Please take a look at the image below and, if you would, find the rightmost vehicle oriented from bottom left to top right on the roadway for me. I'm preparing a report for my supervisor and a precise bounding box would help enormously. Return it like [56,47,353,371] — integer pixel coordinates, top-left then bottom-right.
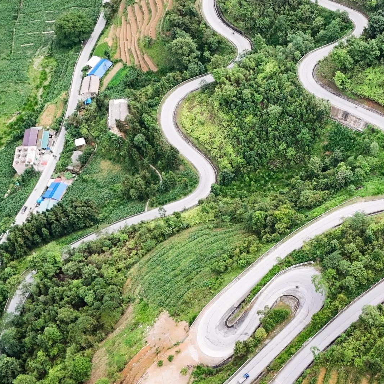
[236,370,251,384]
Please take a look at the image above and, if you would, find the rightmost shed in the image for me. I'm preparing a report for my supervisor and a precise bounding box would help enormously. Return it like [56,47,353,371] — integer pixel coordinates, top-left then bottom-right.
[105,100,131,130]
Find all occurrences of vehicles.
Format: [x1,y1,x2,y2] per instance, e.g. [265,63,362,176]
[236,370,251,384]
[20,205,27,213]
